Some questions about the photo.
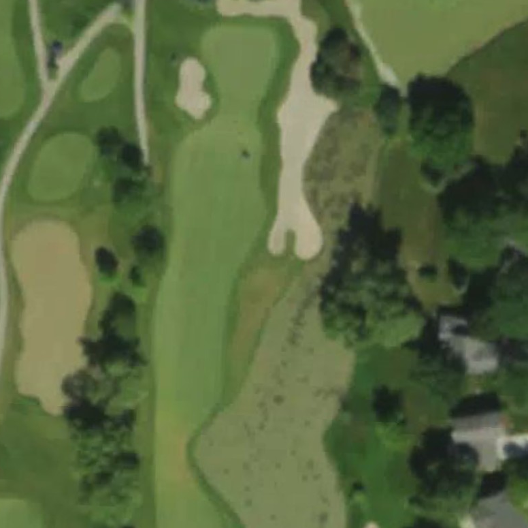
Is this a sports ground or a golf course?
golf course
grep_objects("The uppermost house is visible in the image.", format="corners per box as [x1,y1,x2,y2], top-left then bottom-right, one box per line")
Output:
[441,311,501,374]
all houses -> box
[441,311,501,374]
[451,412,506,471]
[462,488,528,528]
